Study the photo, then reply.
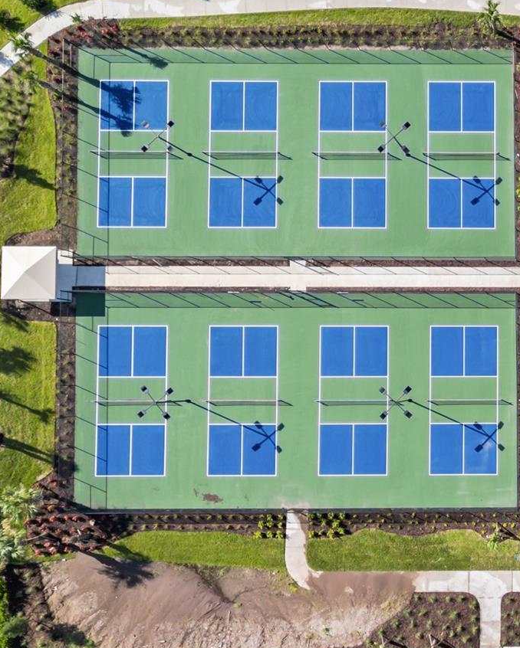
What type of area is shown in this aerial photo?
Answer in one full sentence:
It's a sports ground.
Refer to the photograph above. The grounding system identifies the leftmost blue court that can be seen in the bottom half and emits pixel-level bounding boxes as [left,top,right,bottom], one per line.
[96,325,168,476]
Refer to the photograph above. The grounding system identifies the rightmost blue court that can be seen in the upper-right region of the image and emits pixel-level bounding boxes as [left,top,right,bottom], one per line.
[428,80,496,228]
